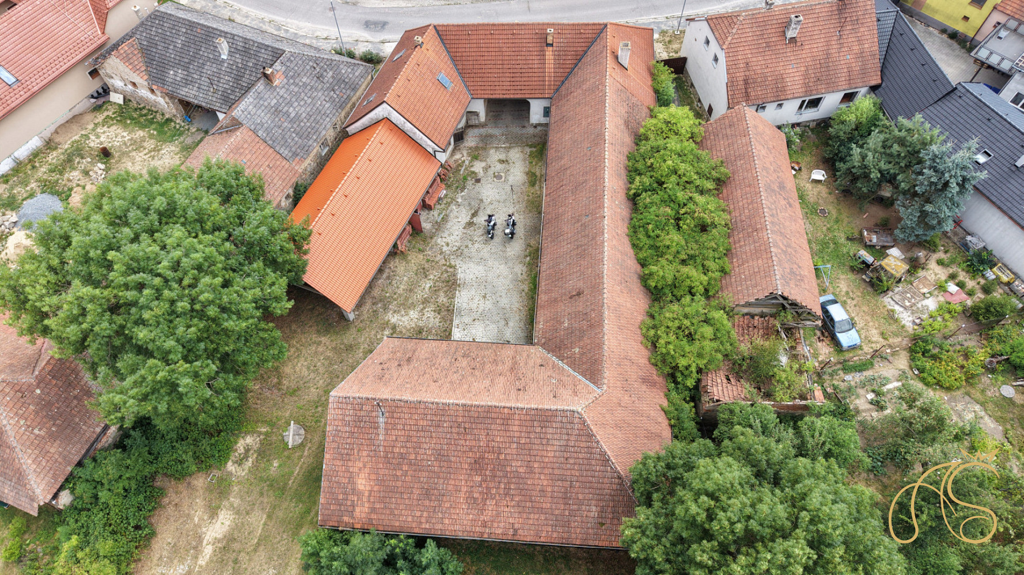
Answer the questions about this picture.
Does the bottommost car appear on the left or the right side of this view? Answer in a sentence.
You can find the bottommost car on the right side of the picture.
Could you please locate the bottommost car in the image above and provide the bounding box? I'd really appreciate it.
[818,292,867,356]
